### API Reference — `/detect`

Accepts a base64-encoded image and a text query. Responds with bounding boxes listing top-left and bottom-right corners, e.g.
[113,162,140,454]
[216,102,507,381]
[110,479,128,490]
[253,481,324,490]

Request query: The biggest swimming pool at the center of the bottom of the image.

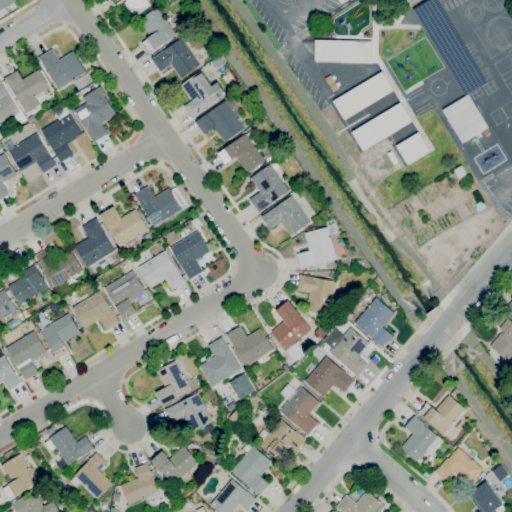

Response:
[203,477,218,495]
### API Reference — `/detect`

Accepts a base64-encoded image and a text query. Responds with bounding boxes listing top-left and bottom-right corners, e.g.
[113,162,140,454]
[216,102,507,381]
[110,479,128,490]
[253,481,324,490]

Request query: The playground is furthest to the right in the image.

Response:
[474,144,508,174]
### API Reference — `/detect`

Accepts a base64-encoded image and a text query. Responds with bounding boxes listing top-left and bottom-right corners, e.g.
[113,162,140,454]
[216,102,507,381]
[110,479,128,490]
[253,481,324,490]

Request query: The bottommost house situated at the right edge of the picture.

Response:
[472,482,508,512]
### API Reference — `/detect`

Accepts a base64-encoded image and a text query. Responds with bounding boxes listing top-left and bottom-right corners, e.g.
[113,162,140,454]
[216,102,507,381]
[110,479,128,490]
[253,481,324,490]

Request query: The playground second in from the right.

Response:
[388,38,444,90]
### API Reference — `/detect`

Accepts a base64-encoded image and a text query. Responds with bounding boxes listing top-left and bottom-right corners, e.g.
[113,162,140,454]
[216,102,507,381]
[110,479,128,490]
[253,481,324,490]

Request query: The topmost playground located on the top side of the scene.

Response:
[336,4,370,34]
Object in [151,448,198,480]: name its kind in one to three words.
house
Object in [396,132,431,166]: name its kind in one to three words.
building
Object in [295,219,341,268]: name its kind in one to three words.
house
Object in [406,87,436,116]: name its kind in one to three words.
sports court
